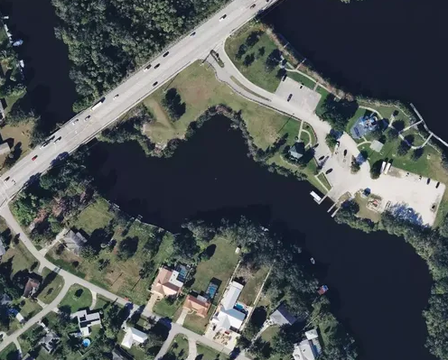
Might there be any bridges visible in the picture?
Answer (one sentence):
Yes, you can see a bridge in this photo.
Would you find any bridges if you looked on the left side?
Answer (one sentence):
Yes, a bridge appears on the left side.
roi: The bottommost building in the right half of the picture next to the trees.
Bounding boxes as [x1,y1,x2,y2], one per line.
[290,329,319,360]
